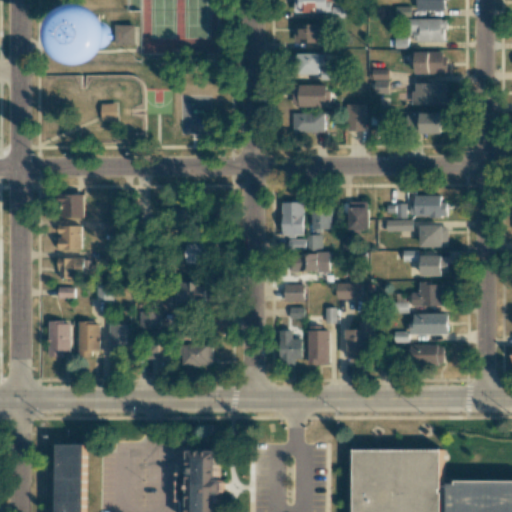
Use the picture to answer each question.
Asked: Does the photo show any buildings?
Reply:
Yes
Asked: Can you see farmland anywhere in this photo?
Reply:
No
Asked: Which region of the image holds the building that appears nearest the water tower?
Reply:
top left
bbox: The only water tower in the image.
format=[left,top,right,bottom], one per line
[42,3,114,64]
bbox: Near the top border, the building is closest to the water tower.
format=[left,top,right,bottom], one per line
[115,26,142,46]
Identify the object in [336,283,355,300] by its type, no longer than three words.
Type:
building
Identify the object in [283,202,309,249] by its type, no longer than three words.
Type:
house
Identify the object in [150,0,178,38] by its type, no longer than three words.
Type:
tennis court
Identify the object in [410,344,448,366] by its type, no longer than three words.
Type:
house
